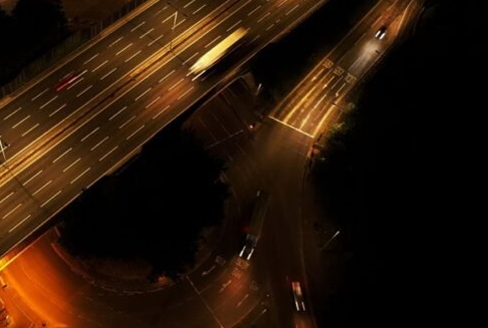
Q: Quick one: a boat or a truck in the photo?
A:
truck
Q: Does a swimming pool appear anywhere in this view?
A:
No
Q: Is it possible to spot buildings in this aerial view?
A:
No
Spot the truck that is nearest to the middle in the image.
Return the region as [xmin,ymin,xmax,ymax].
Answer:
[241,191,269,258]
